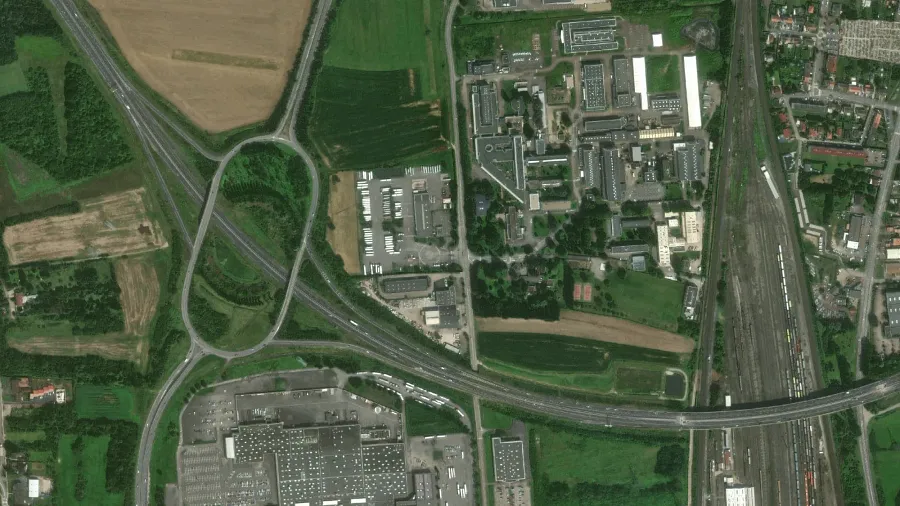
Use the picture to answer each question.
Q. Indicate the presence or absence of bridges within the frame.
Yes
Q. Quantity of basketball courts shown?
none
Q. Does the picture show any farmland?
Yes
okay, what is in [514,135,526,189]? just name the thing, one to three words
building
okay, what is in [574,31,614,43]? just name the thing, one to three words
building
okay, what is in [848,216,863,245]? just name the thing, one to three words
house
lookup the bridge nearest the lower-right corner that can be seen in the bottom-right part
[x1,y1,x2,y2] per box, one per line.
[690,383,879,429]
